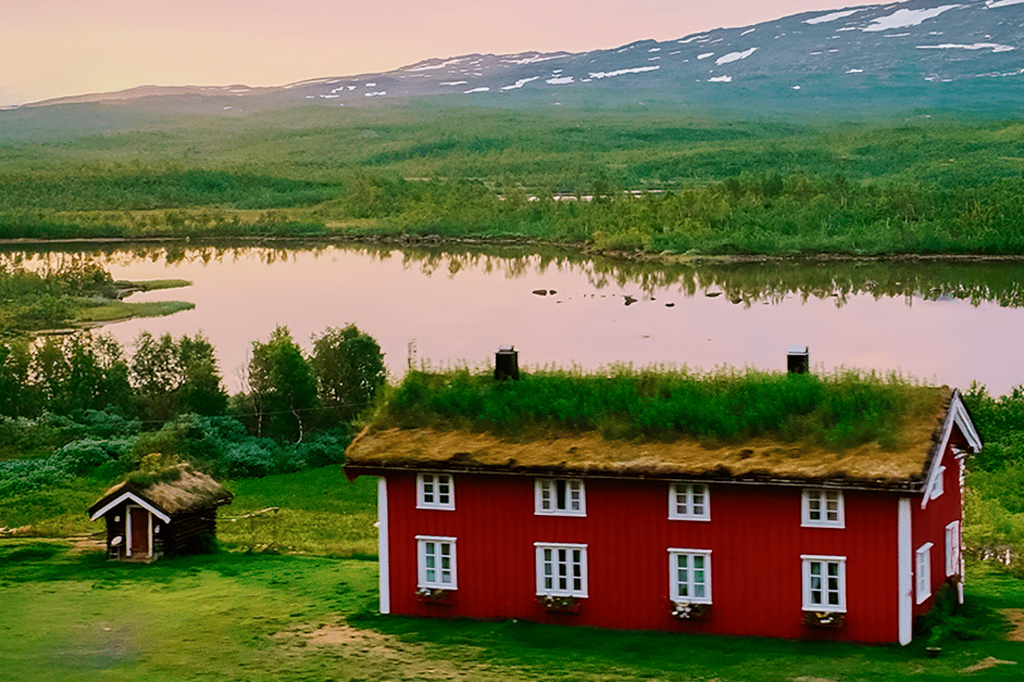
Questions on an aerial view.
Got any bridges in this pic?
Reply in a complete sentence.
No, no bridge can be seen from above.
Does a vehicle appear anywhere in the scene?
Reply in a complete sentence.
No, there appears to be no vehicle in this shot.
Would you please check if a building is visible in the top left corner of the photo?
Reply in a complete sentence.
No, no building can be made out in the top left corner of the photo.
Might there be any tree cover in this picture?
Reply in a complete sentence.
Yes, tree cover can be seen from above here.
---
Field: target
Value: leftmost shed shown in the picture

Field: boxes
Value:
[86,453,237,566]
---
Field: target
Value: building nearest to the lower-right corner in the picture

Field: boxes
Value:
[339,341,988,643]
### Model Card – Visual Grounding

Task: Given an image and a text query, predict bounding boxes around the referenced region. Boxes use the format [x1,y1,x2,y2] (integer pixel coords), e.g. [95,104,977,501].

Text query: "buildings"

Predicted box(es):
[339,341,988,643]
[86,453,237,566]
